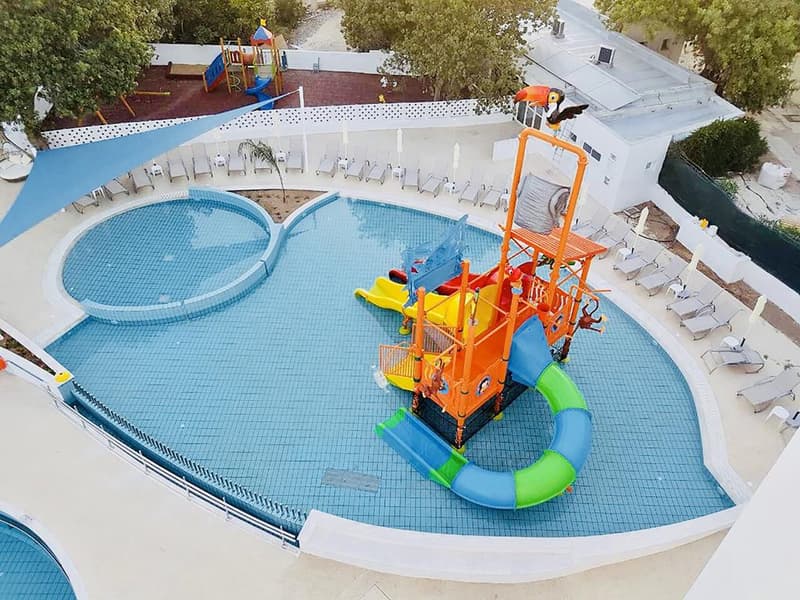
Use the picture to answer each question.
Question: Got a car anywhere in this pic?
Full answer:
No, there appears to be no car in this shot.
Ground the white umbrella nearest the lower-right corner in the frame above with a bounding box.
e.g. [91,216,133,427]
[745,294,771,336]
